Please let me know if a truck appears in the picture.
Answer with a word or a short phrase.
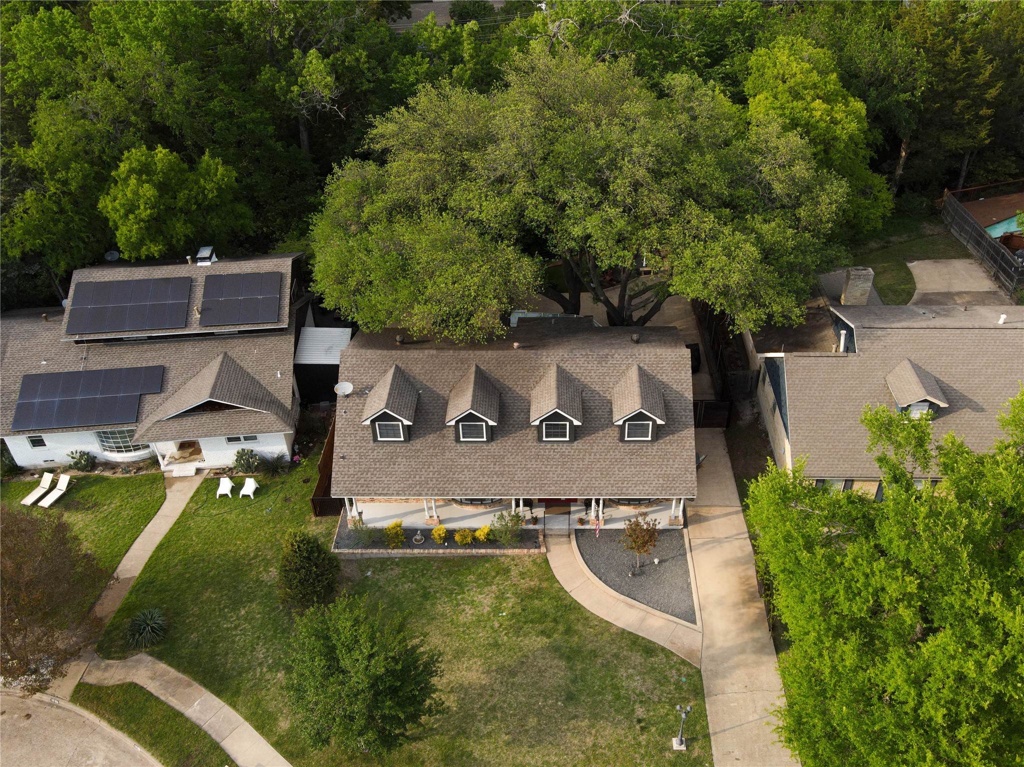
No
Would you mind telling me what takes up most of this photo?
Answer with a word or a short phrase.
trees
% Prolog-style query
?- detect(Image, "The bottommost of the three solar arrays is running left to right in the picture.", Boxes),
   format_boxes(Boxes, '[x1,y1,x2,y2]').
[11,364,161,430]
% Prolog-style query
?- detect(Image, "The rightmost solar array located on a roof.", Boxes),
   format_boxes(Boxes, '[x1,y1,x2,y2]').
[199,270,278,325]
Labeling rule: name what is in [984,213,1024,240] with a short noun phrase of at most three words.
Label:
swimming pool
